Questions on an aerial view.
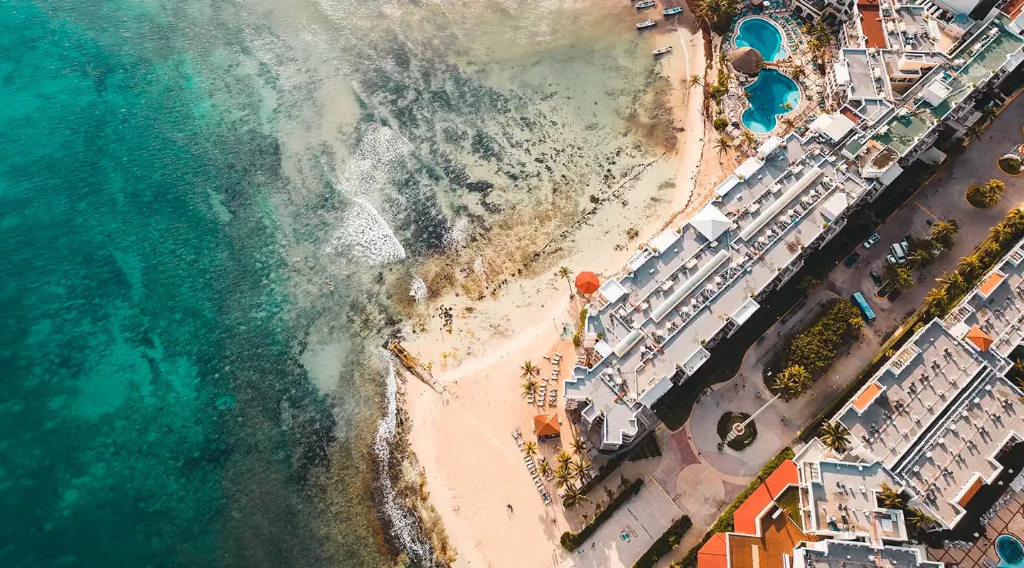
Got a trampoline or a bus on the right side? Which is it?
bus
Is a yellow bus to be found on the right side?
No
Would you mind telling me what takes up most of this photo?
water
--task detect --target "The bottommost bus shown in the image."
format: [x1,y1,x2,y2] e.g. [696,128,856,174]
[851,286,883,323]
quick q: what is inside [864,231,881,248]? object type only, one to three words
vehicle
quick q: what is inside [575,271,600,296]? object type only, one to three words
gazebo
